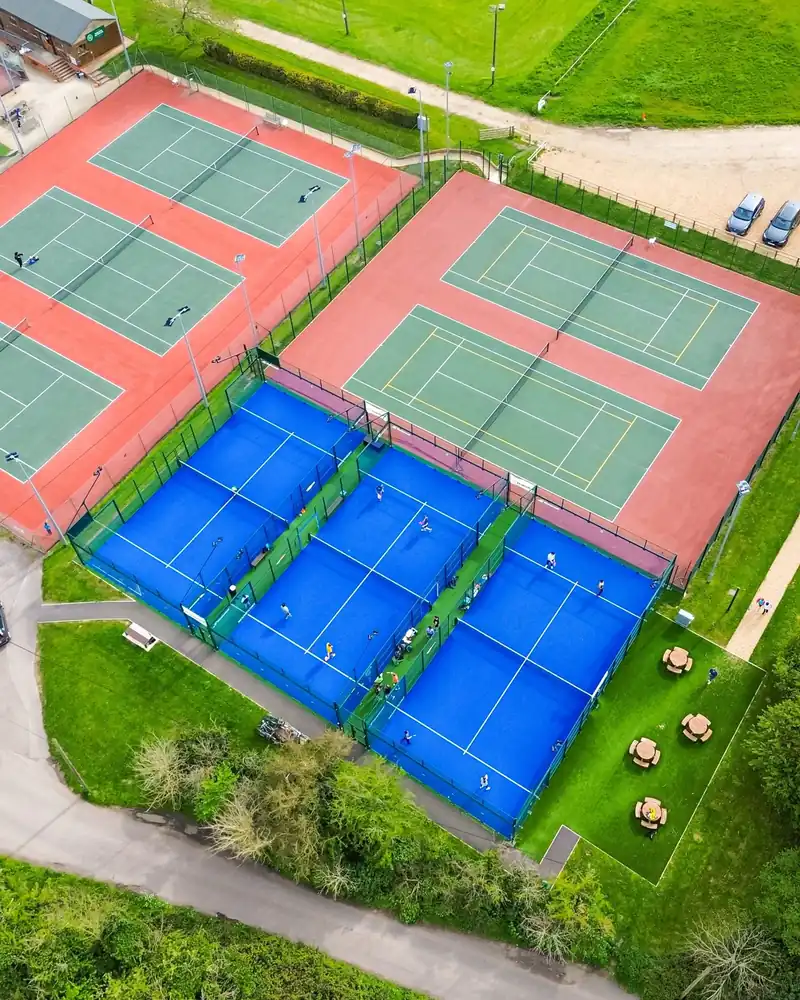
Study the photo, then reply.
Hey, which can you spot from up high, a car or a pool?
car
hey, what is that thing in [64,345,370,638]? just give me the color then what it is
blue sports court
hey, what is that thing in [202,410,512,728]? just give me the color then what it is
blue sports court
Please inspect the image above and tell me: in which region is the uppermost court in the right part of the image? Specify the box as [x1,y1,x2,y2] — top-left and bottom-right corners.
[441,206,758,391]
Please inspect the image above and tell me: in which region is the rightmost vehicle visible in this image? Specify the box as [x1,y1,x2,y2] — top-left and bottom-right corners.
[765,199,800,244]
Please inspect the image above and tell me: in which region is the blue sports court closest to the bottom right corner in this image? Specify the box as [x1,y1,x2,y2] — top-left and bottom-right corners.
[360,483,678,846]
